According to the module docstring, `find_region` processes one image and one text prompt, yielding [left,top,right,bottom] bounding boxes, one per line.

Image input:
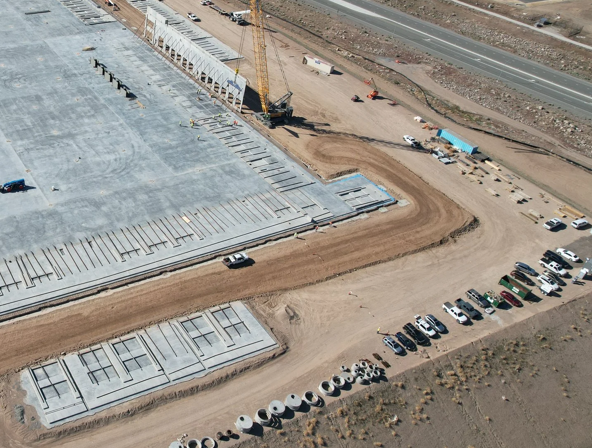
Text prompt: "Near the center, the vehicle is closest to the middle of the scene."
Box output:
[222,253,252,268]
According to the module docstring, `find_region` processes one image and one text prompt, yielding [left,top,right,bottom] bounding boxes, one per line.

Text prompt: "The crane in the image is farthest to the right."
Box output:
[250,0,295,128]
